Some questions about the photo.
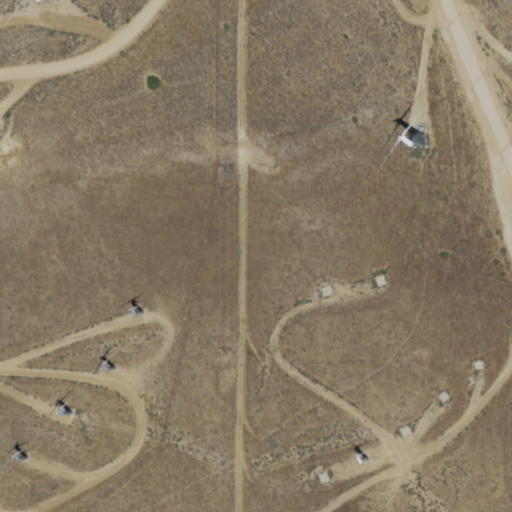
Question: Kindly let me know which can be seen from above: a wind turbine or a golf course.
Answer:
wind turbine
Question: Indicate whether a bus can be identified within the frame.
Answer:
No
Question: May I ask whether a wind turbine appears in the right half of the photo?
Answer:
Yes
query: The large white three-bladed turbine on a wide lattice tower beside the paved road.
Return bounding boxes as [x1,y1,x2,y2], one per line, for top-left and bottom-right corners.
[384,107,428,158]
